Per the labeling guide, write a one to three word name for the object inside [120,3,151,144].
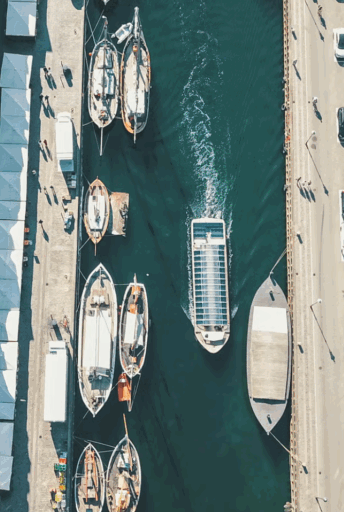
boat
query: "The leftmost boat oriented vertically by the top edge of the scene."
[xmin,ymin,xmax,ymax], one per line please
[87,22,119,151]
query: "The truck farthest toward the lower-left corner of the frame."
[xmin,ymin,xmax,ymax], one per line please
[44,339,69,426]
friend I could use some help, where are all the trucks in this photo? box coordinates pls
[44,339,69,426]
[53,108,74,173]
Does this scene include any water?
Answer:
Yes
